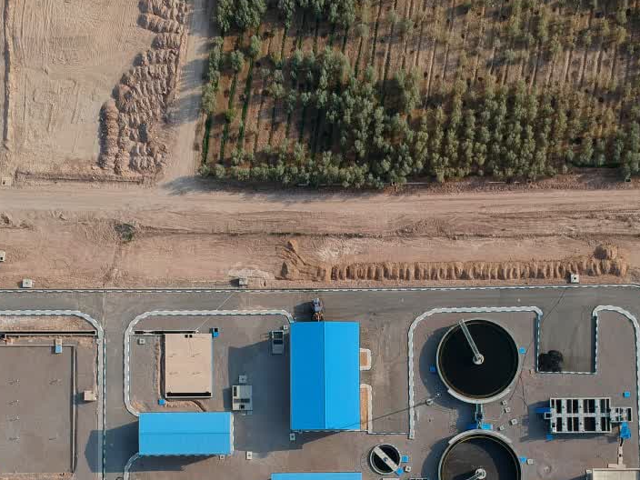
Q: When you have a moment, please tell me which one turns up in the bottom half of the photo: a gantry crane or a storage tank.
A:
storage tank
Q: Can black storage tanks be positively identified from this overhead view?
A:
Yes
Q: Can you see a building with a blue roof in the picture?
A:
Yes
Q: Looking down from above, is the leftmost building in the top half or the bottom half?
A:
bottom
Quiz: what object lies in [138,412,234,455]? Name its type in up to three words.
building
